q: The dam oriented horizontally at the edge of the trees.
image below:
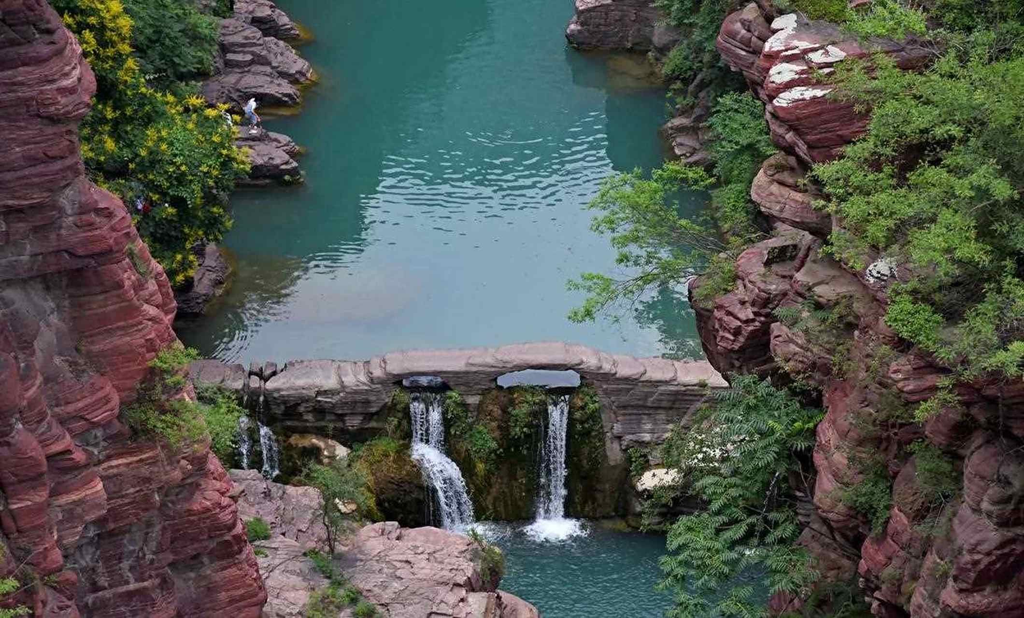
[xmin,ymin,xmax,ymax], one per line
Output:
[187,335,792,462]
